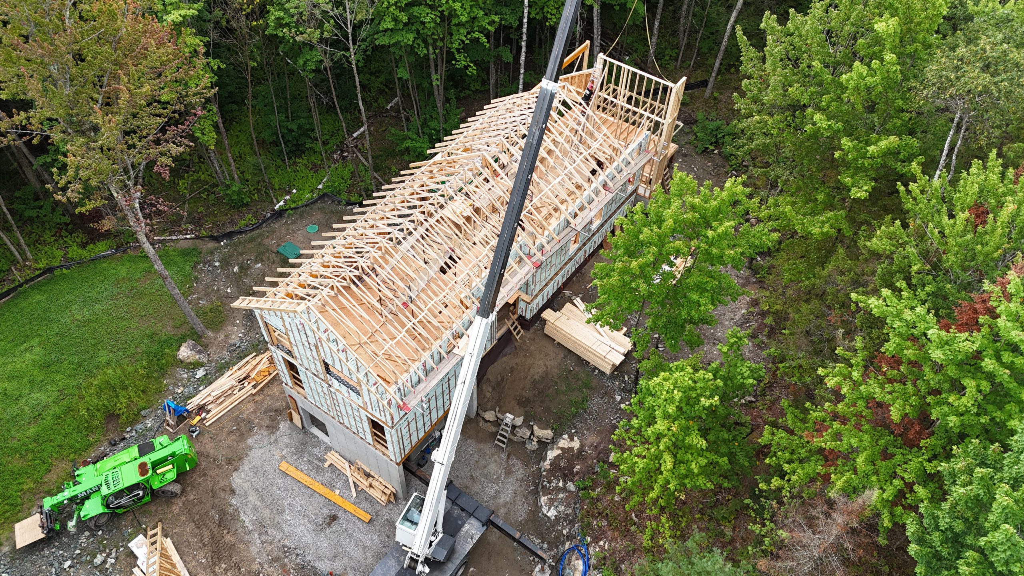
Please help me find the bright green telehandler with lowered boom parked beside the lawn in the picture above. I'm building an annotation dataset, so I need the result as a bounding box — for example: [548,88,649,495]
[39,426,202,547]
